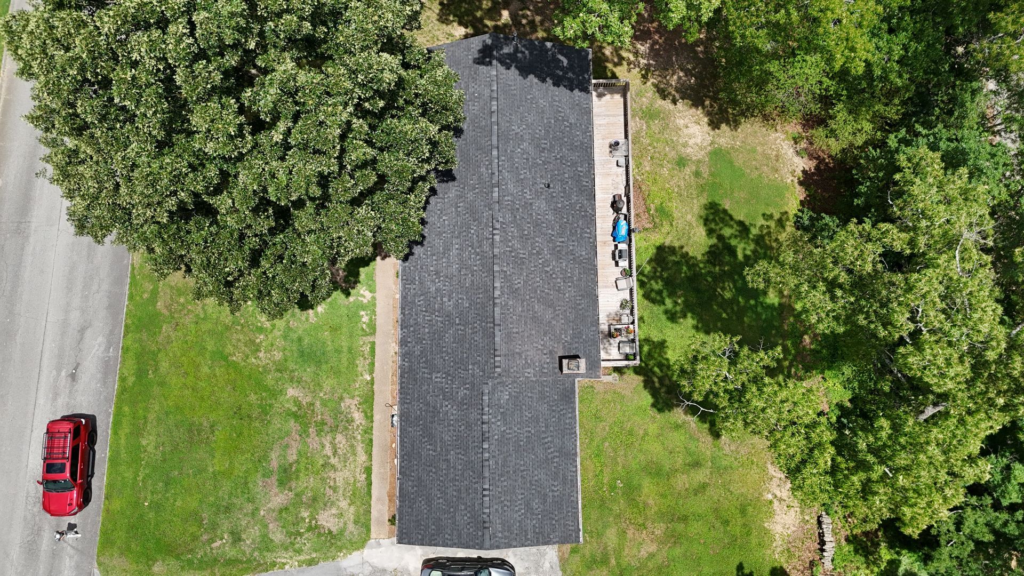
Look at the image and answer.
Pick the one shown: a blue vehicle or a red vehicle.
red vehicle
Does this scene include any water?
No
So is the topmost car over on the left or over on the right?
left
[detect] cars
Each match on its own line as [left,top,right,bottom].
[421,559,516,576]
[40,415,102,516]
